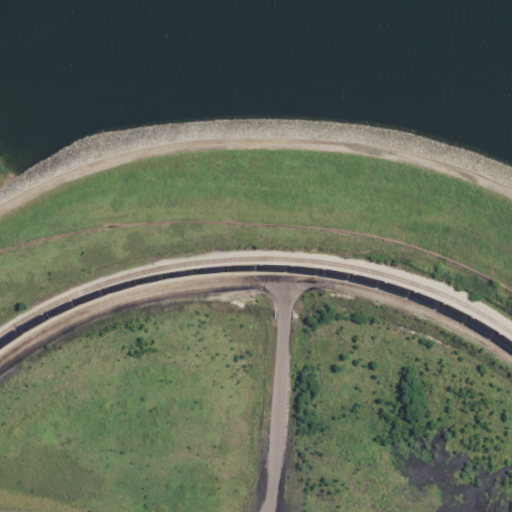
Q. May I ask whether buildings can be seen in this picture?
No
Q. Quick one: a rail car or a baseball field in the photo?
rail car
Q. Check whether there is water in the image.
Yes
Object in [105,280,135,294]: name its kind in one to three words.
rail car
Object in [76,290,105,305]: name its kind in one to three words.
rail car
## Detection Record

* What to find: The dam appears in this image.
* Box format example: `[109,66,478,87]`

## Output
[0,118,512,288]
